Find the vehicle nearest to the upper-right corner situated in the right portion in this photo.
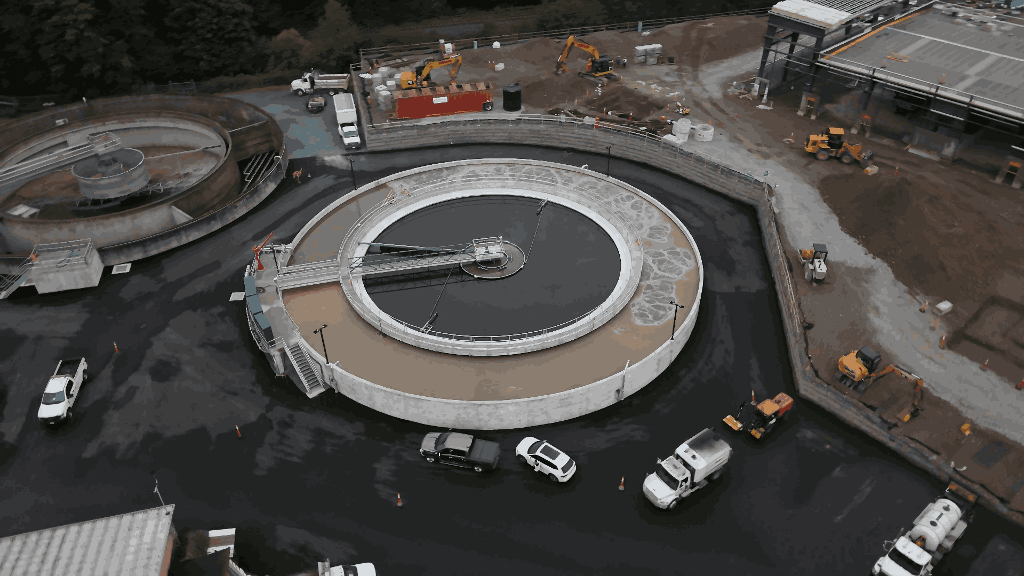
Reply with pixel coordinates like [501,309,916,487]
[806,129,869,164]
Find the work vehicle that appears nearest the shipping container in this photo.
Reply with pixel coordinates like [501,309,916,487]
[394,51,462,88]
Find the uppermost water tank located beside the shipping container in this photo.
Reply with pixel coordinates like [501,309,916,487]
[501,80,522,110]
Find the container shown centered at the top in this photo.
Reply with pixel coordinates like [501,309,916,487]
[386,80,494,118]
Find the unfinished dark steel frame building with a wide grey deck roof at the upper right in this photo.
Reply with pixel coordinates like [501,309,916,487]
[751,0,1024,187]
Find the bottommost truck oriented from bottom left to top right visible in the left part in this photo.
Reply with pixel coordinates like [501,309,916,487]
[36,361,89,427]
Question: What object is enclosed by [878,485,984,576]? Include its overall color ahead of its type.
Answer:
white truck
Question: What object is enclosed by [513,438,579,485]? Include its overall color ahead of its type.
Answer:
white car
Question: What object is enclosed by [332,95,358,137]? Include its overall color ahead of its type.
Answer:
white truck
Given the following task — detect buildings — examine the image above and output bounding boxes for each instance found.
[751,0,1024,187]
[0,502,190,576]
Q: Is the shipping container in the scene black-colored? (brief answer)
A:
No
